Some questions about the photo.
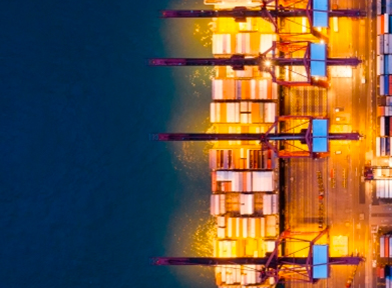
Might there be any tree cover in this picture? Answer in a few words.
No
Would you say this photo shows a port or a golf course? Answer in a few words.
port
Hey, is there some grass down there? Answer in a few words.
No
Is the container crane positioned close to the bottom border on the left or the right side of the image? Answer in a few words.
right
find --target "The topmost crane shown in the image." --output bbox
[156,0,366,43]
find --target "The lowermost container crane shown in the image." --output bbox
[154,223,366,285]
